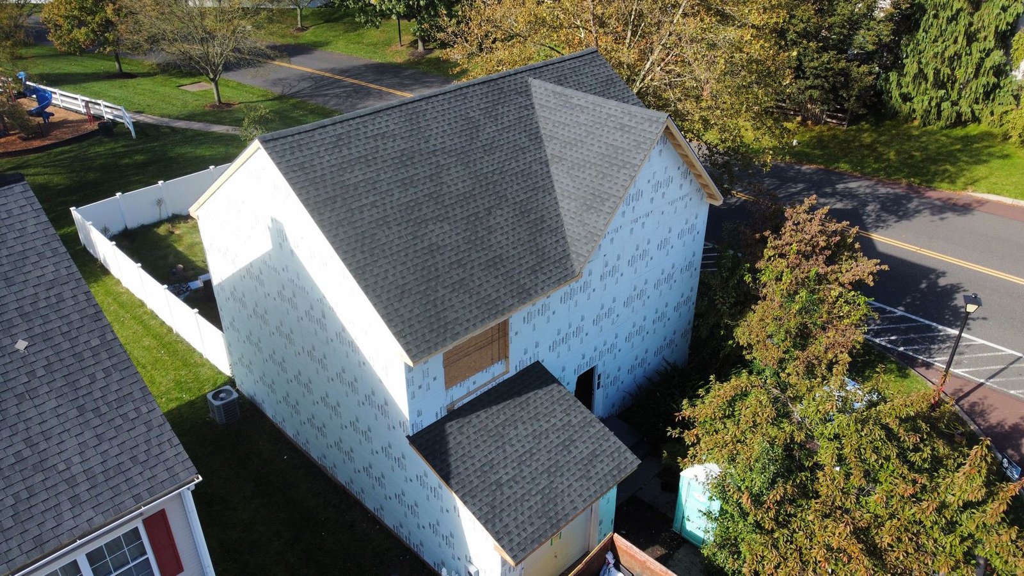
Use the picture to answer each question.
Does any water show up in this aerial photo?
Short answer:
No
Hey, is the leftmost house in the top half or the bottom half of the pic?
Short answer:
bottom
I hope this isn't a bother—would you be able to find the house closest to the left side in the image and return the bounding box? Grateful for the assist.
[0,174,215,576]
